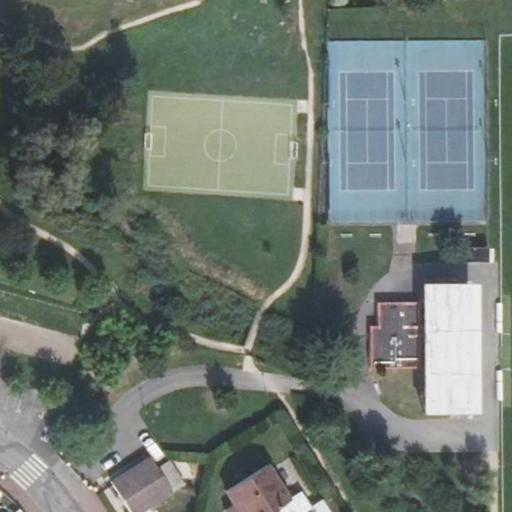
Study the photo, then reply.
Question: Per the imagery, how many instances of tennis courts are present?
2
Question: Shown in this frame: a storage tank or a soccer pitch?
soccer pitch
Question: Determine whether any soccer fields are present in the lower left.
No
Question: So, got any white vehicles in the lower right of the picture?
No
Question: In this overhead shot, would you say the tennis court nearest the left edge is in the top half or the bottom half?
top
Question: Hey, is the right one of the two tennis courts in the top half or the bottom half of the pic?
top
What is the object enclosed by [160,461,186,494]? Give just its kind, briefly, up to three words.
building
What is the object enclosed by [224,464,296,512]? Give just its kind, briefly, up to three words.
house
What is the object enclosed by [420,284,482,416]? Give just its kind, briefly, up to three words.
building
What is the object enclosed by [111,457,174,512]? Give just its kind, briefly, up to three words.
house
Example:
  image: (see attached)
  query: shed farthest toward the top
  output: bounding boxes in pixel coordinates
[464,248,490,262]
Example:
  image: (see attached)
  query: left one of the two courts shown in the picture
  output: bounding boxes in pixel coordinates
[328,40,406,222]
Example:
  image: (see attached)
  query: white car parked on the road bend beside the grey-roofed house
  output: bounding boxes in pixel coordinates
[100,454,121,473]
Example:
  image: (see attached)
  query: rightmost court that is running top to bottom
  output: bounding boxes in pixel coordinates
[406,40,486,222]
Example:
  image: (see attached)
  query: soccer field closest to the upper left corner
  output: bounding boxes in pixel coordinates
[144,92,297,198]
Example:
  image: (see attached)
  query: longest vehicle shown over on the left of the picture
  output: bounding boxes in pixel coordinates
[138,432,164,464]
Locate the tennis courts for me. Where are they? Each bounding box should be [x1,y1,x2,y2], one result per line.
[328,40,406,222]
[406,40,486,222]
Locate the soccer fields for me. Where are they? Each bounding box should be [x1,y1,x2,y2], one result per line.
[501,36,512,512]
[144,92,297,198]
